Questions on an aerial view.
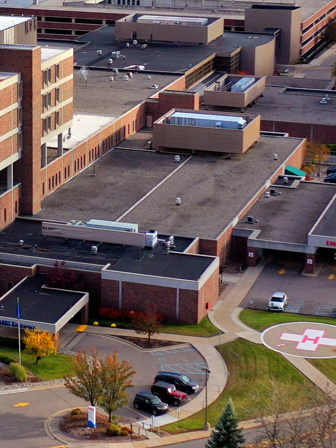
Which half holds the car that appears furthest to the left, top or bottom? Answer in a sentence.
You can find the car that appears furthest to the left in the bottom half.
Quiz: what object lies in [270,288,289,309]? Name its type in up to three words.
car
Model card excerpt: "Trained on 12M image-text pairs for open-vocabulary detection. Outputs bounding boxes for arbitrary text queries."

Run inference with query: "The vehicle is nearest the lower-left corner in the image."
[130,389,170,416]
